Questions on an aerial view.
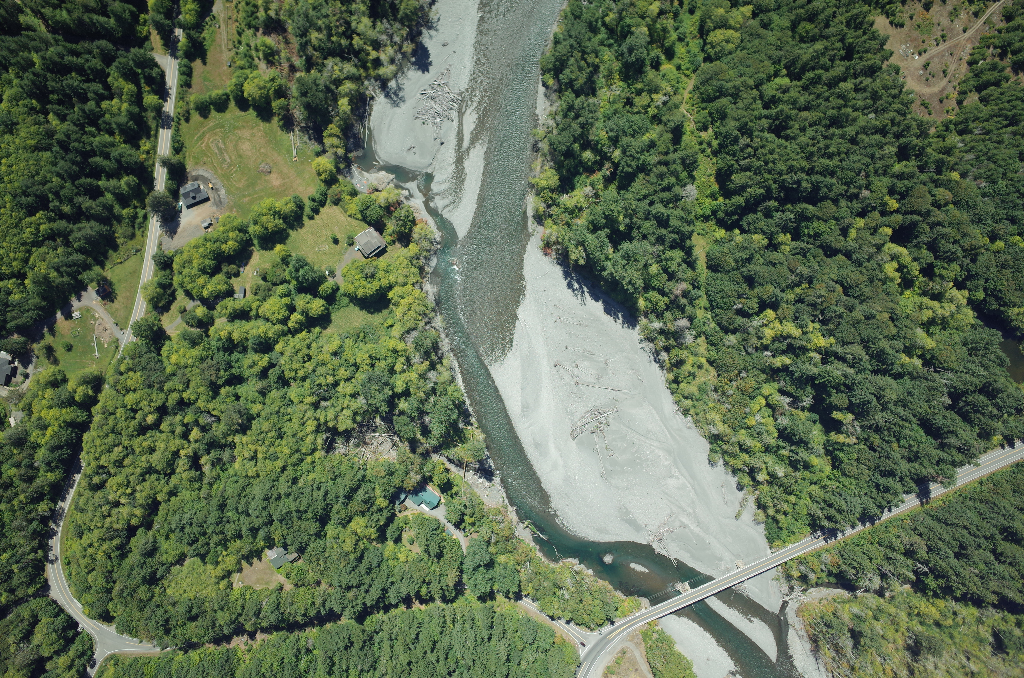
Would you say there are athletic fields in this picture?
No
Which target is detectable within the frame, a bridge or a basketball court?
bridge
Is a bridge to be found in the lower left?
No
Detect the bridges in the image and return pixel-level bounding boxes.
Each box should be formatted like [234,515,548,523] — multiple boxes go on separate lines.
[647,550,781,624]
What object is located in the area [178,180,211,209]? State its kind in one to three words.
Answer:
house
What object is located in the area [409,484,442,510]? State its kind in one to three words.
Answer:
house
